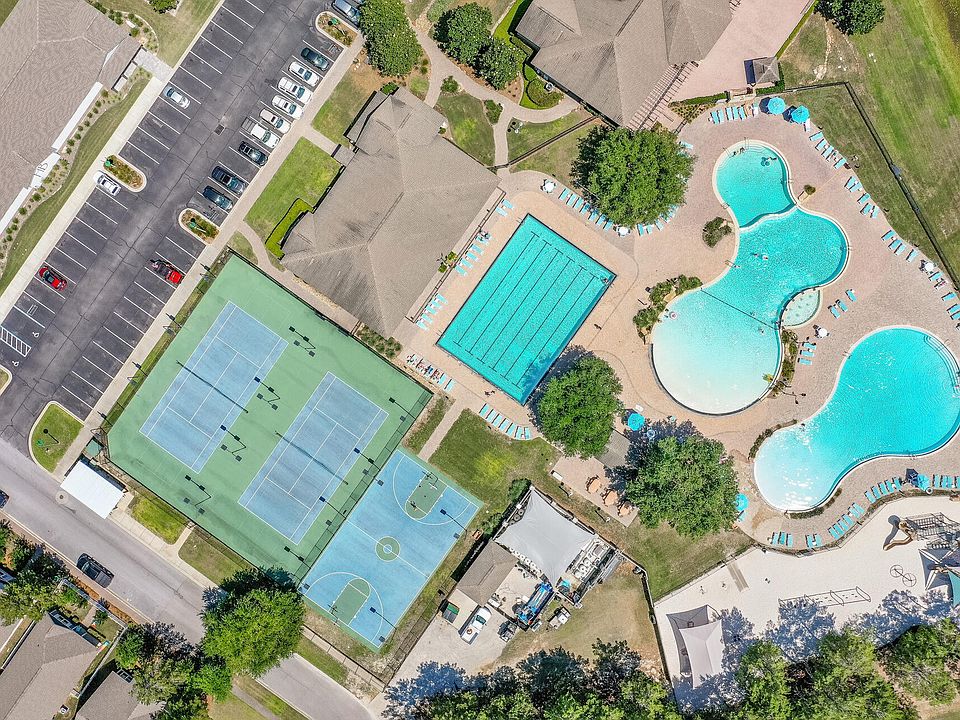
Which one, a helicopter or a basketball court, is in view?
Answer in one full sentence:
There is a basketball court in the scene.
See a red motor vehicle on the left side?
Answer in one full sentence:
Yes, on the left side there is a red motor vehicle.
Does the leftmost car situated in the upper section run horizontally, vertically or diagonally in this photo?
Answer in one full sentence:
In this picture, the leftmost car situated in the upper section lies diagonally.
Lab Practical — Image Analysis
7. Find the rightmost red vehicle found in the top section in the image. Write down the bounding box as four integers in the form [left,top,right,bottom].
[150,257,185,285]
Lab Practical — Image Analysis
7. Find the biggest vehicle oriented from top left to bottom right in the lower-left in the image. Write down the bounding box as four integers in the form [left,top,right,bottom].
[75,554,116,589]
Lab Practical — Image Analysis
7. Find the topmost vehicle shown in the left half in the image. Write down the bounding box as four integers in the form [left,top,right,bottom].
[330,0,360,24]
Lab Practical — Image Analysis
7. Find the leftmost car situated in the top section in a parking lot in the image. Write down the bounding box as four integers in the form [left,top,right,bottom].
[38,265,68,290]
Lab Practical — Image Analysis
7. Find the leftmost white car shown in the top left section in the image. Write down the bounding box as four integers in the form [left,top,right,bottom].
[92,171,125,198]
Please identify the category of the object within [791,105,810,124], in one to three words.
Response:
umbrella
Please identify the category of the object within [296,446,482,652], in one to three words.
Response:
basketball court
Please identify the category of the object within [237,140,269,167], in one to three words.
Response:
car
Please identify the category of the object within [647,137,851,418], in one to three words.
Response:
swimming pool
